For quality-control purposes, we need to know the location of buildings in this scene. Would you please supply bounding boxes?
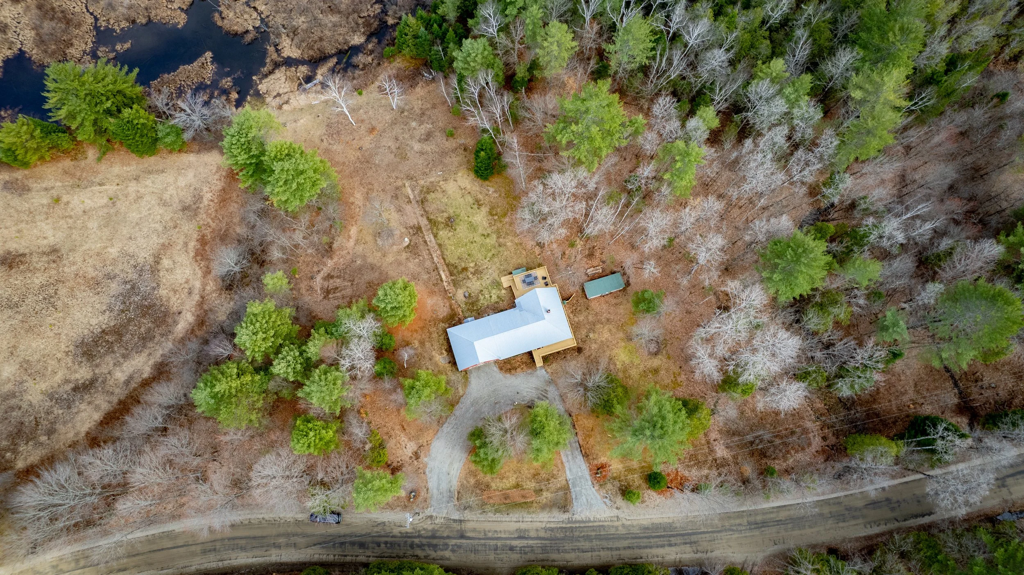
[447,288,573,372]
[583,273,625,301]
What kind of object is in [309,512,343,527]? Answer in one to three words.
car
